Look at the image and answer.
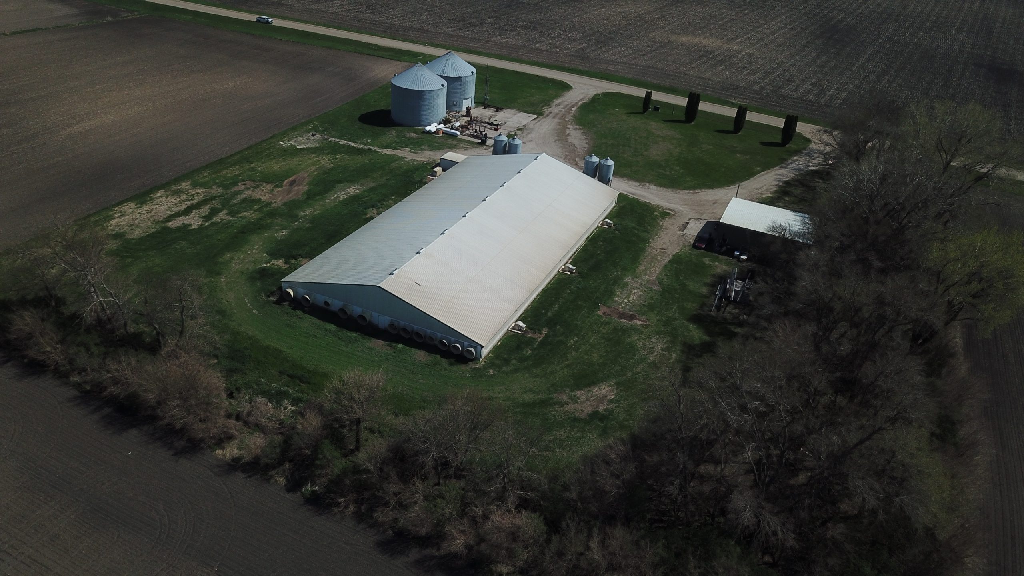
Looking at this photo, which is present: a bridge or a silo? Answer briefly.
silo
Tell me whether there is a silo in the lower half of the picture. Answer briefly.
No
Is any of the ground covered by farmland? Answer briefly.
Yes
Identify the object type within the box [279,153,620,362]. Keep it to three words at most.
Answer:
barn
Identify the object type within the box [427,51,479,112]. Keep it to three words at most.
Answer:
silo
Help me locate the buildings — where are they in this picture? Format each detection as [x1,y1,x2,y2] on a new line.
[716,196,819,264]
[279,153,620,362]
